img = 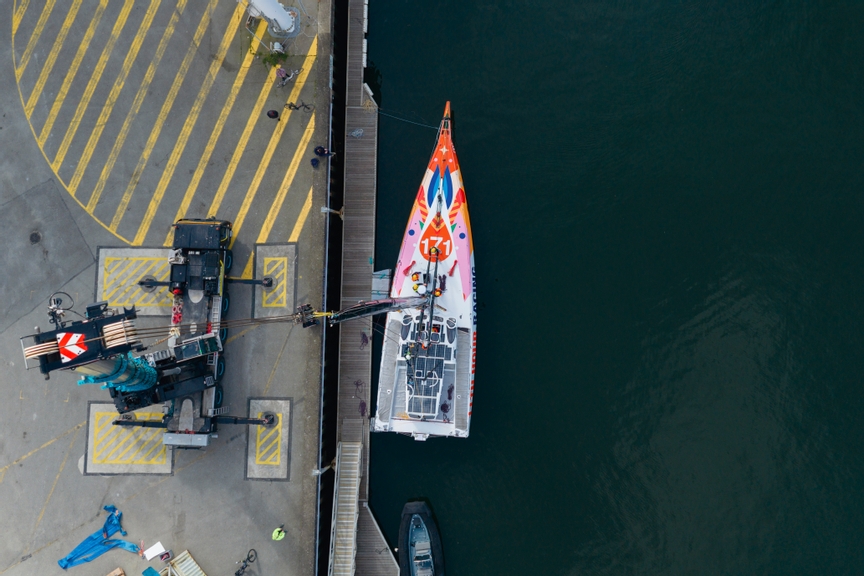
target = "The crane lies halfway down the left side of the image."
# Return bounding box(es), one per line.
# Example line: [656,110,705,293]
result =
[17,216,294,449]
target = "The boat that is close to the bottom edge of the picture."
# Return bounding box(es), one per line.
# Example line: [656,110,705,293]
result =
[398,500,445,576]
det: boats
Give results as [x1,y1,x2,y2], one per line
[377,100,477,441]
[398,500,445,576]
